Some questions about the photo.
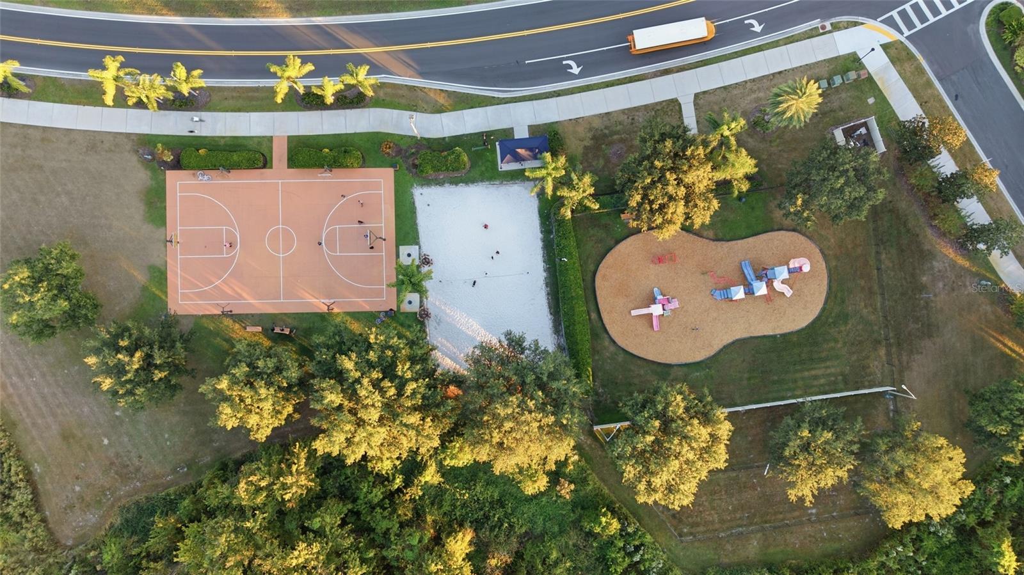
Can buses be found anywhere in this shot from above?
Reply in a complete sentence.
Yes, a bus can be made out from above.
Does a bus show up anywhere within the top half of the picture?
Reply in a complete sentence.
Yes, the scene does show a bus within the top half of the picture.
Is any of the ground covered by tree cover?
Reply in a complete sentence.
Yes, the picture does contain tree cover.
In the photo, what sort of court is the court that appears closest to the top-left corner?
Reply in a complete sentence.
What you see as the court that appears closest to the top-left corner is a basketball court.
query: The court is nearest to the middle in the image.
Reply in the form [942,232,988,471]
[410,180,559,380]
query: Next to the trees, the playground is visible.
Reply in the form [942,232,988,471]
[594,229,829,365]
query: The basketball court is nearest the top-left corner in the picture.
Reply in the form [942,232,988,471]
[166,167,396,314]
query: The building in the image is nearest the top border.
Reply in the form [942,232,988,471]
[497,135,551,171]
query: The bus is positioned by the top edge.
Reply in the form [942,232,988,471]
[628,14,717,56]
